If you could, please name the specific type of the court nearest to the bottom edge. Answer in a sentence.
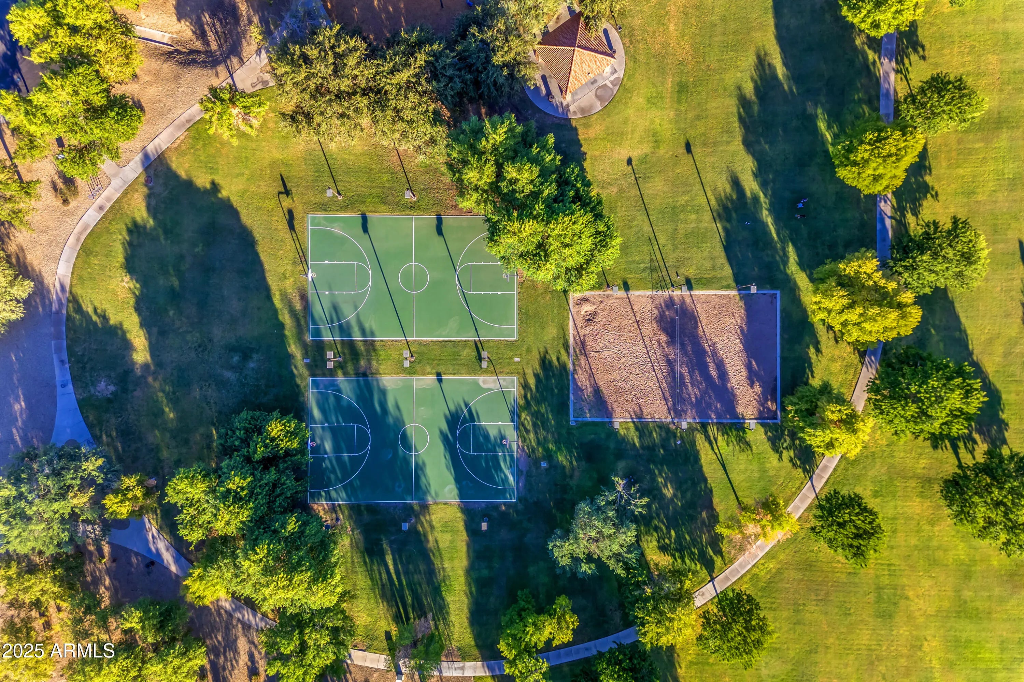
I'd identify the court nearest to the bottom edge as a basketball court.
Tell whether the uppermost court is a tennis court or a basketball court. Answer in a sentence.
It looks like the uppermost court is a basketball court.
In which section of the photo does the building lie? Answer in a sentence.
The building is located in the top region of the scene.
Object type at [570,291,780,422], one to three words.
sports court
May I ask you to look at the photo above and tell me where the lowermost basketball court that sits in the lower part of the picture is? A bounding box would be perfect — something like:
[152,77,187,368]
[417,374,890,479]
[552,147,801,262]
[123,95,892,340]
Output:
[307,376,518,503]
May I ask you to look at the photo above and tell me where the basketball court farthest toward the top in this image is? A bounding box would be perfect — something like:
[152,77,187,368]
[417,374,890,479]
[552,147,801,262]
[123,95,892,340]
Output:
[308,214,518,340]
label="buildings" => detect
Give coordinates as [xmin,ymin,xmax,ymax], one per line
[532,17,617,101]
